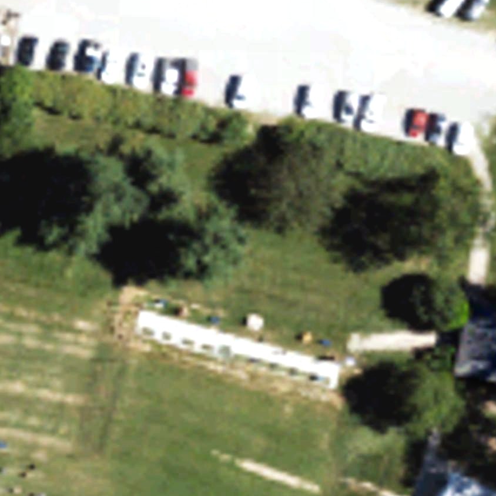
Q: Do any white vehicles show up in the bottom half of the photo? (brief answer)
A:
No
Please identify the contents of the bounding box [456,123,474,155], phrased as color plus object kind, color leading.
white car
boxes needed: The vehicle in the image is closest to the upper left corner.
[23,36,39,67]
